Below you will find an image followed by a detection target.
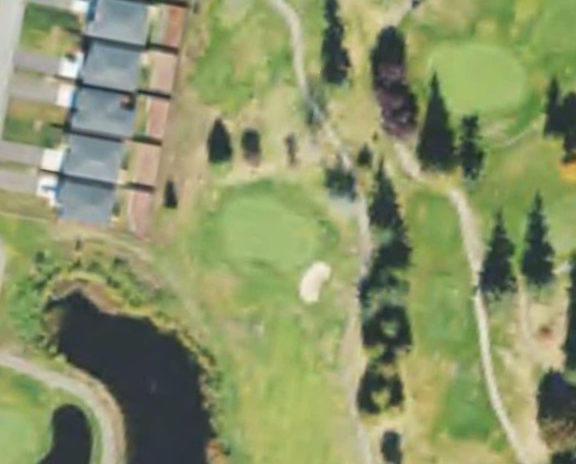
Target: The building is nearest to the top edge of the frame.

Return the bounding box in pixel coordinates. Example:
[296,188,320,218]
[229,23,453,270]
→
[88,0,152,45]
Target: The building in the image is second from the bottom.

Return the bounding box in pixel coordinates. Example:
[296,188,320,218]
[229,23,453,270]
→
[61,134,122,184]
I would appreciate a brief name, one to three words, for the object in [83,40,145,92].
house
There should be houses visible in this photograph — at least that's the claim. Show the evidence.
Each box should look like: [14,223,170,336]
[71,87,137,140]
[83,40,145,92]
[88,0,152,45]
[57,179,114,224]
[61,134,122,184]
